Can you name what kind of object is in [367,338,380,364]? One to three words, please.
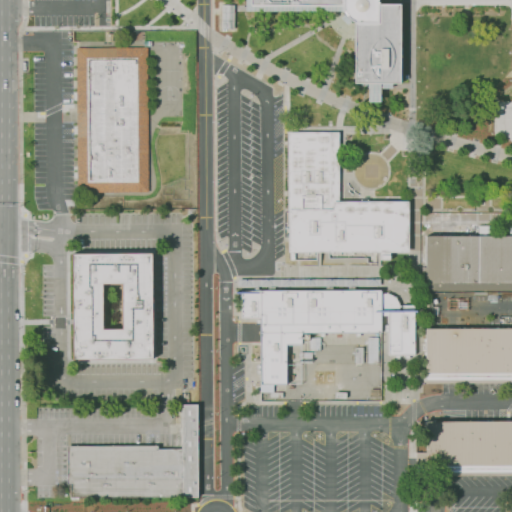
shed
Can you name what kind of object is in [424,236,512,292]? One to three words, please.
building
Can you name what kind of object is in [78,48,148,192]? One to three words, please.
building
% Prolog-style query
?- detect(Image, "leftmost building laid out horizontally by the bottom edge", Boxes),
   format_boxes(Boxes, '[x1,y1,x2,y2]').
[70,446,183,500]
